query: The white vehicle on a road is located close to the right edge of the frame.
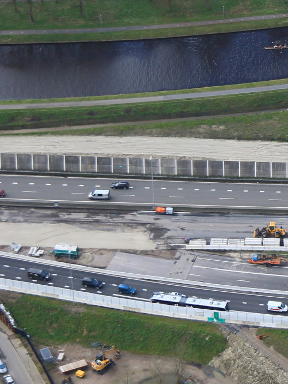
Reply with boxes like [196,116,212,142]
[266,299,288,312]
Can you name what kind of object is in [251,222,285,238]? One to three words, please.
work vehicle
